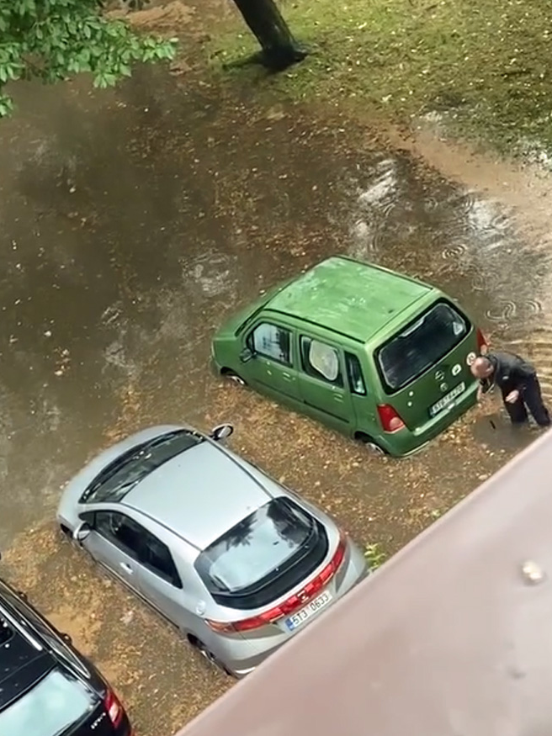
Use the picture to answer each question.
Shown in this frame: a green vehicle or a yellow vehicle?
green vehicle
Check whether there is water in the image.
Yes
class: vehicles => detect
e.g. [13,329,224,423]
[0,585,138,736]
[63,422,362,673]
[217,257,480,453]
